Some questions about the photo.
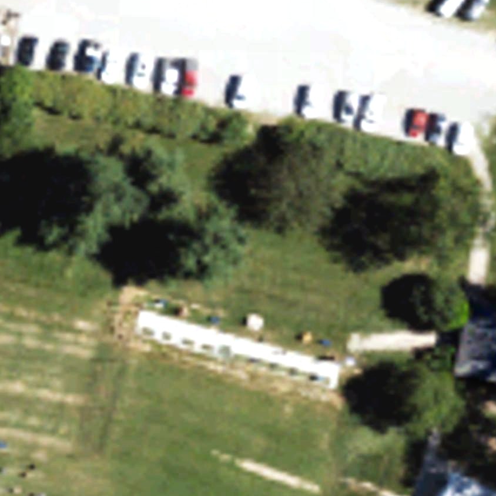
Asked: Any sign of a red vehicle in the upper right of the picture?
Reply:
Yes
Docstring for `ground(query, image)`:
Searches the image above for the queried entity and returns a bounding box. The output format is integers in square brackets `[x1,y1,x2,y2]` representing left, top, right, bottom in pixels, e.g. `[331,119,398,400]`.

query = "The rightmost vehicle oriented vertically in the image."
[456,123,474,155]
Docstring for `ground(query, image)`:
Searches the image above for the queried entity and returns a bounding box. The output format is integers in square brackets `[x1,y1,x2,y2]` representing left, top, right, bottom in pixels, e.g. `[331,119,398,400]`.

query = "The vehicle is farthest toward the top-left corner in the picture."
[23,36,39,67]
